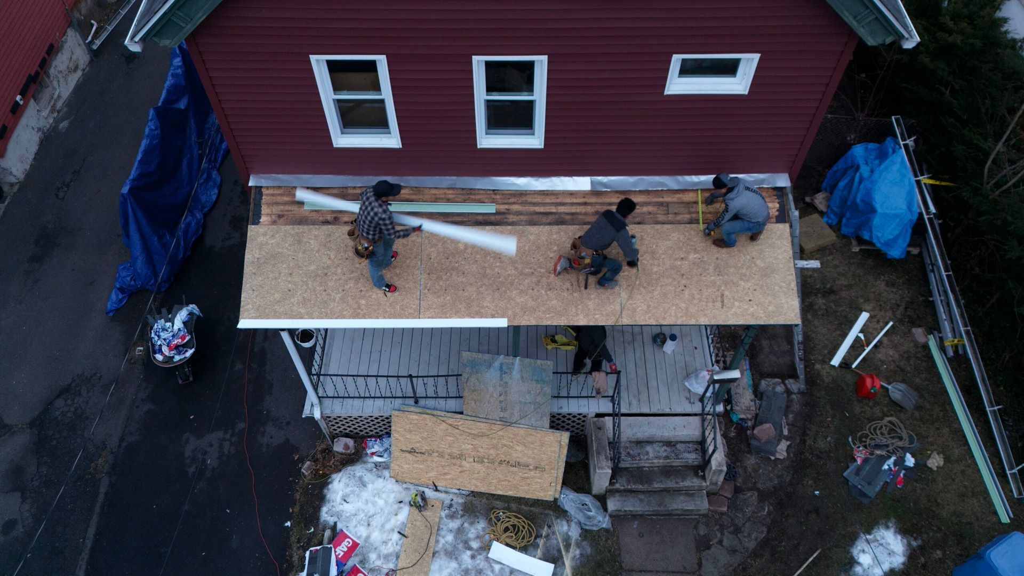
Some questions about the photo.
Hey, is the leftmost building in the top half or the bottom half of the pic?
top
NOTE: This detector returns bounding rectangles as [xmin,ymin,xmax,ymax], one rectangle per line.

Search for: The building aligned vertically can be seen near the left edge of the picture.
[0,0,93,216]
